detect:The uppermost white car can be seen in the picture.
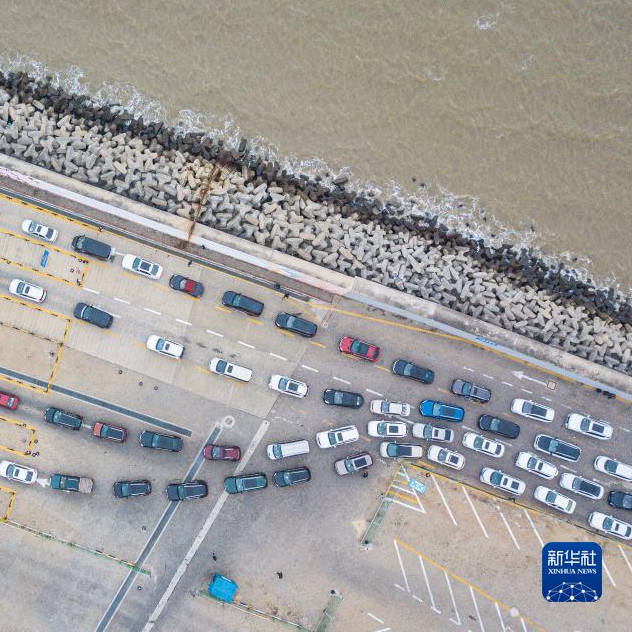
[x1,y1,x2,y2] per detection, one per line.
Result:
[22,220,59,243]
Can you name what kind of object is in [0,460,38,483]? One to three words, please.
car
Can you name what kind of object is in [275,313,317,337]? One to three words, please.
car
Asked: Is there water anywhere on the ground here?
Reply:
Yes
